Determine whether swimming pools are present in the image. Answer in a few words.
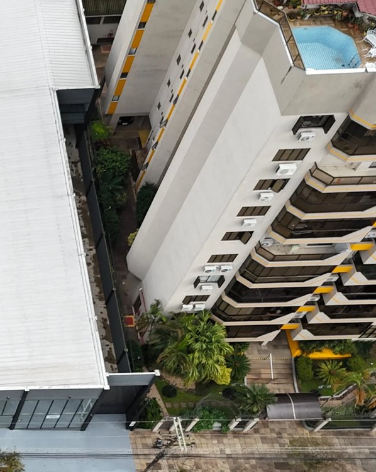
Yes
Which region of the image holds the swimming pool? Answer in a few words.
top right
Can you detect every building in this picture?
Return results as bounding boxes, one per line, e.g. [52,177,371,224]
[127,0,376,341]
[0,0,110,434]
